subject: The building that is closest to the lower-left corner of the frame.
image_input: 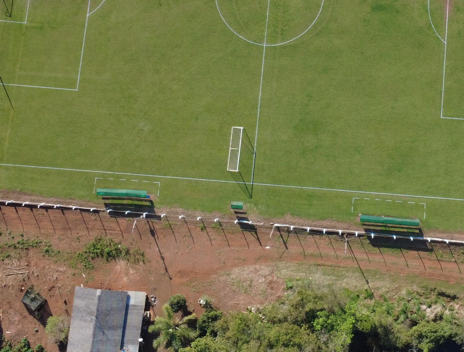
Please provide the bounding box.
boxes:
[18,288,47,313]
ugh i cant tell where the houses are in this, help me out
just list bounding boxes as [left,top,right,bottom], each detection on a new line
[18,288,47,313]
[67,287,147,352]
